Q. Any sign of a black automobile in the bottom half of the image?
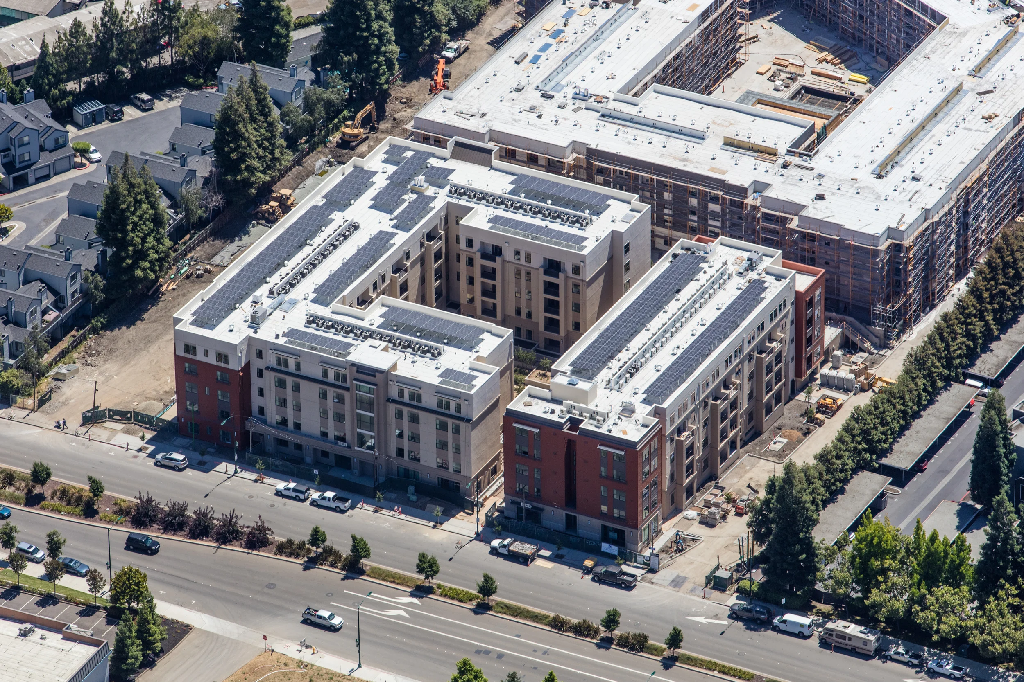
Yes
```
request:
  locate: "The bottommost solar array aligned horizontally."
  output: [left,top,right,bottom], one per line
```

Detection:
[437,368,479,389]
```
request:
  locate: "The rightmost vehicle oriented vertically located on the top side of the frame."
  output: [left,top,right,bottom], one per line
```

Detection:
[431,61,449,98]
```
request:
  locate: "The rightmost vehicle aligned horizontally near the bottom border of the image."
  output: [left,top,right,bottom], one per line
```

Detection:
[920,657,970,680]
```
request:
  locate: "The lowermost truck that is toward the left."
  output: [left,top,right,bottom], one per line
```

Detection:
[299,607,348,632]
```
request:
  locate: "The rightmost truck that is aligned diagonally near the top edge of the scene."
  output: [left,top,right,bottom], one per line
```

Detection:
[440,23,473,61]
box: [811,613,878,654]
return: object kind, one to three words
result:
camper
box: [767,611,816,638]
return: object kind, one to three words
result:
vehicle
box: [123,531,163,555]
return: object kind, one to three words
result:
car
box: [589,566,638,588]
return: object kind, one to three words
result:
truck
